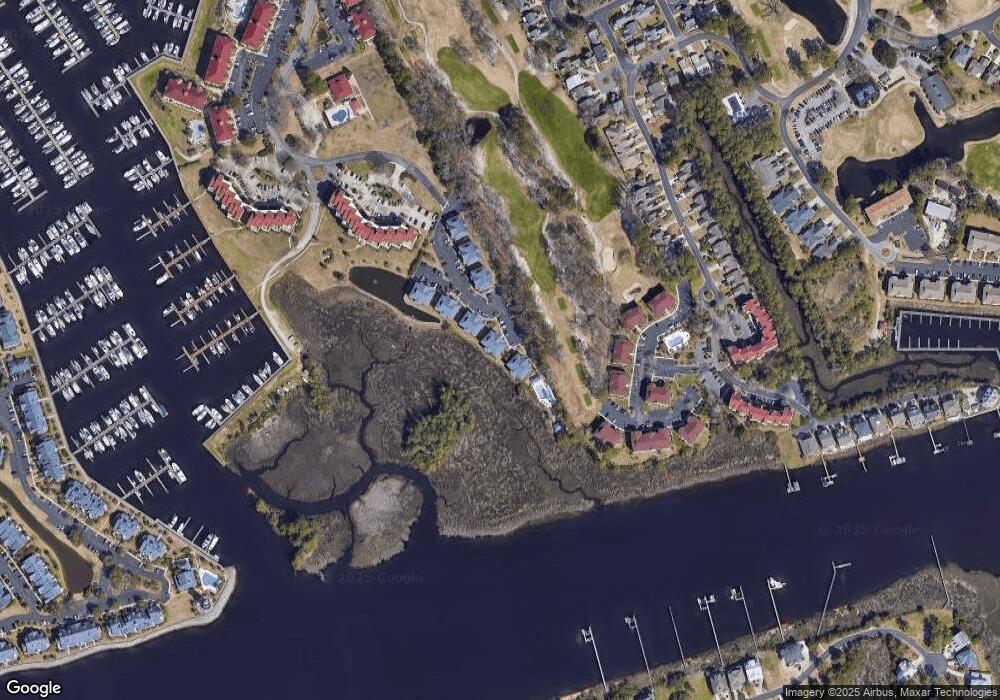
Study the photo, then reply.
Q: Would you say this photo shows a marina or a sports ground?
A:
marina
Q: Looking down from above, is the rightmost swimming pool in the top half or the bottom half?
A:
top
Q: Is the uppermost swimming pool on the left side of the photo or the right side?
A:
left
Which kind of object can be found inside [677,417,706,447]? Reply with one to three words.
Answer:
house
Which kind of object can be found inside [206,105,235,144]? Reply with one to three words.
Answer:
building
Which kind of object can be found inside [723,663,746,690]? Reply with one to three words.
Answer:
house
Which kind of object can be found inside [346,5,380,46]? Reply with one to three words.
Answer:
building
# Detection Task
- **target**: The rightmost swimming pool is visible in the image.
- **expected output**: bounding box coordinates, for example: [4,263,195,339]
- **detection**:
[724,93,749,123]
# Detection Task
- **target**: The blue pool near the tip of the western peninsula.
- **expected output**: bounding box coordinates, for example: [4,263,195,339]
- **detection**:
[196,571,220,592]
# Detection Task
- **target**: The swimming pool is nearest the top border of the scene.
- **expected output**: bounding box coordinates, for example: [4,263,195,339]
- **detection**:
[224,0,249,22]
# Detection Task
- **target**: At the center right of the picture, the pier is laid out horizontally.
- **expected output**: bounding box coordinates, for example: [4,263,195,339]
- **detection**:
[895,310,1000,357]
